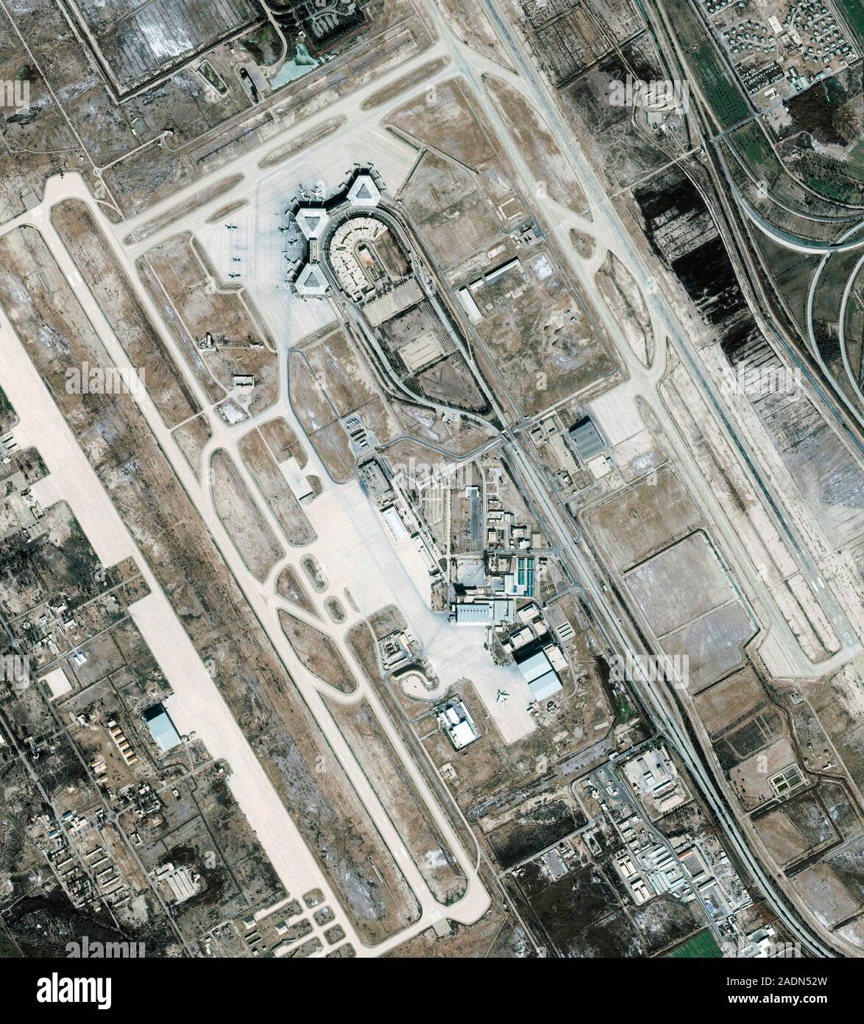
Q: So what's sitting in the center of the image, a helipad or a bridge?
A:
bridge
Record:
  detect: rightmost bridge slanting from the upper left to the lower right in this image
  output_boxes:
[486,393,530,463]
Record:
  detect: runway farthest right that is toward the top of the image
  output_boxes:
[480,0,864,654]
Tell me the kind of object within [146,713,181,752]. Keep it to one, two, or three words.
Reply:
hangar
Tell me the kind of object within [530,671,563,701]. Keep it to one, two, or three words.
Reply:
hangar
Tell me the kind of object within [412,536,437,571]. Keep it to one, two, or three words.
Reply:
building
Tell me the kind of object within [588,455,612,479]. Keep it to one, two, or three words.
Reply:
building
